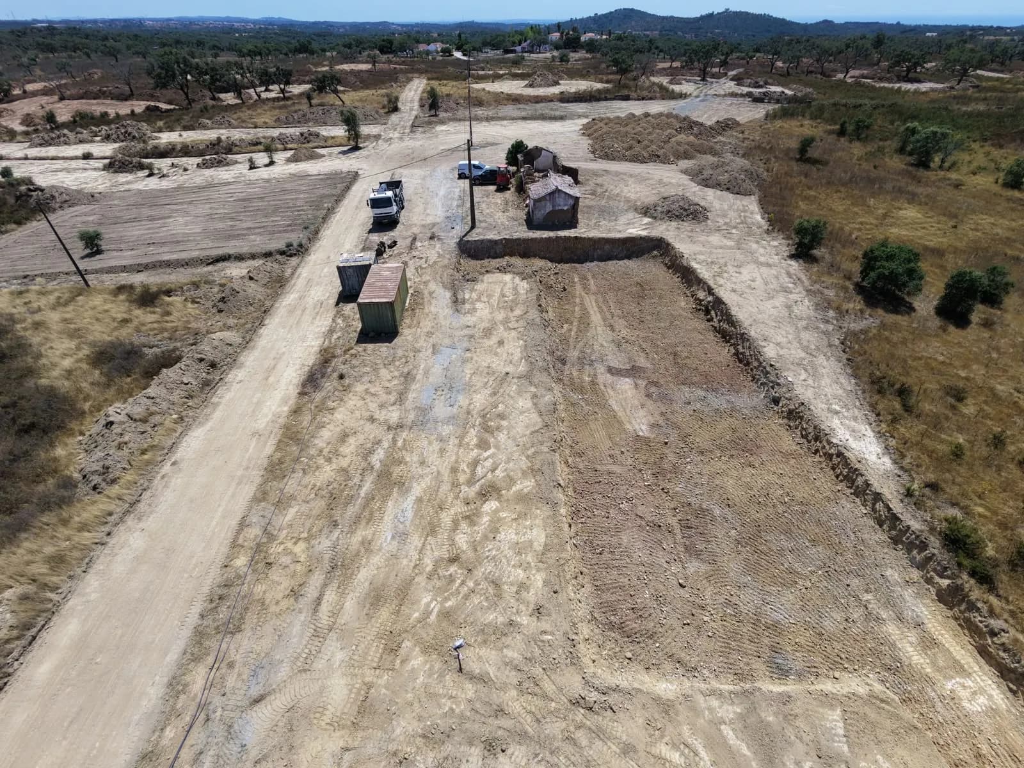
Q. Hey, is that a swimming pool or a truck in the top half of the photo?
truck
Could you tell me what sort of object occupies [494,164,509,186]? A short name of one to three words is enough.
work vehicle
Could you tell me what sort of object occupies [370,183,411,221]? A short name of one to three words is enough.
truck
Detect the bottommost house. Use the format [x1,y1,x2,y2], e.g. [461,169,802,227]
[526,170,584,226]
